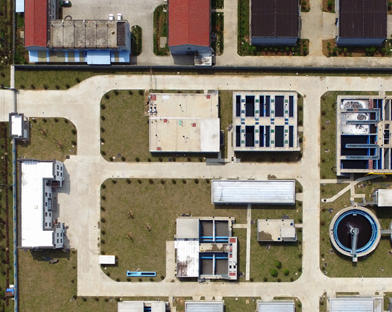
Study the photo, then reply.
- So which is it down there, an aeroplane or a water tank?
water tank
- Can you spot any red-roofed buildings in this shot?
Yes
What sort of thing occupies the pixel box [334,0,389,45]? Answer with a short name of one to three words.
building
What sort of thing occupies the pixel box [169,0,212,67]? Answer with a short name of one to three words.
building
